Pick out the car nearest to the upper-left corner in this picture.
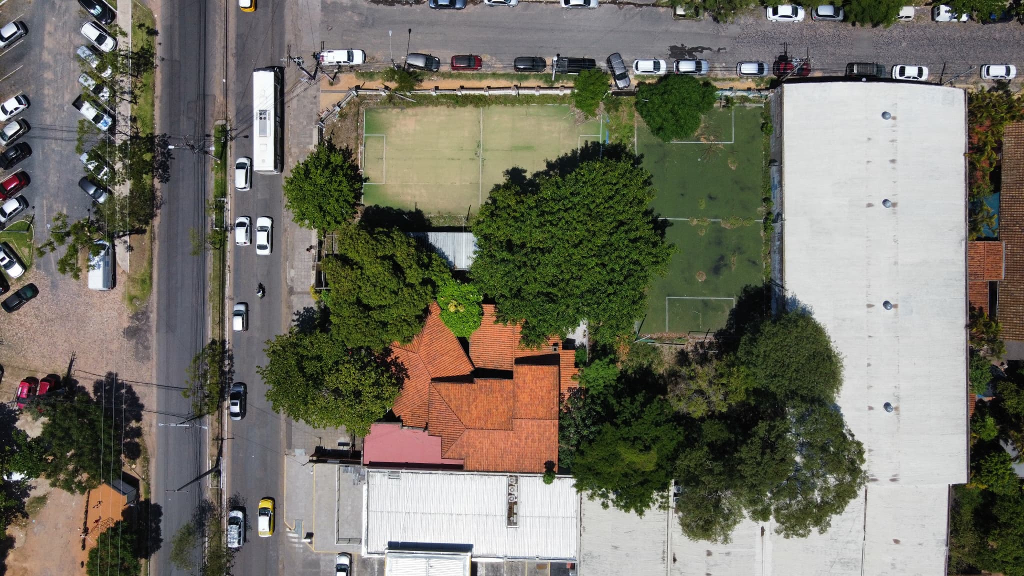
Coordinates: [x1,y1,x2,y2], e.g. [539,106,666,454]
[0,22,28,50]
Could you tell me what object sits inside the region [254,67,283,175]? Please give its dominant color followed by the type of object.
white bus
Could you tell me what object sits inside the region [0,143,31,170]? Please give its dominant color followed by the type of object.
black car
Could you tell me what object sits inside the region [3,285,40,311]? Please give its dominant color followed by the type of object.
black car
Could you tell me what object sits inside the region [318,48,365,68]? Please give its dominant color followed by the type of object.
white car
